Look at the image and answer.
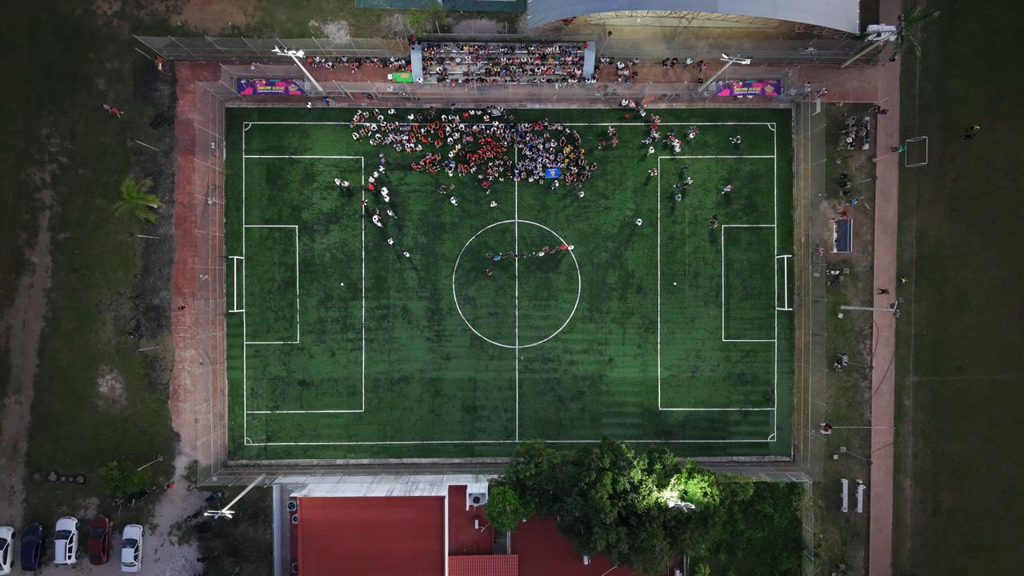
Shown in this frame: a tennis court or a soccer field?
soccer field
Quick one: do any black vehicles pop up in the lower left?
Yes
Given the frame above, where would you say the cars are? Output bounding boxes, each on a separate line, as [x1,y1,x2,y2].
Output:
[0,528,14,576]
[16,525,44,574]
[119,526,144,574]
[85,517,112,567]
[52,517,81,567]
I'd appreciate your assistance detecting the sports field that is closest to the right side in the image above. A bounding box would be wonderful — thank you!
[892,0,1024,576]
